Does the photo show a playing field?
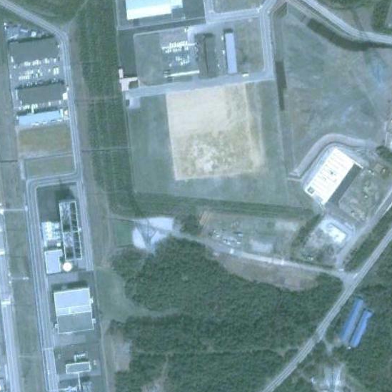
Yes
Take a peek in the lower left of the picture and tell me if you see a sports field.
No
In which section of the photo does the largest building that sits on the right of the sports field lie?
right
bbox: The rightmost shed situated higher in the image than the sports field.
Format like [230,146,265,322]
[226,34,238,74]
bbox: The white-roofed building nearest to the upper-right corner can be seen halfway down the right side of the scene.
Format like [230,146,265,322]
[305,147,355,204]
